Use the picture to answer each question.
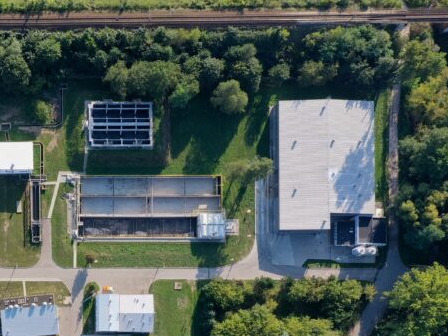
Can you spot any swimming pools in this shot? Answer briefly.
No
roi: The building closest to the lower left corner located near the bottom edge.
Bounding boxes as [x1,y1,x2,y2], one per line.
[0,294,58,336]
